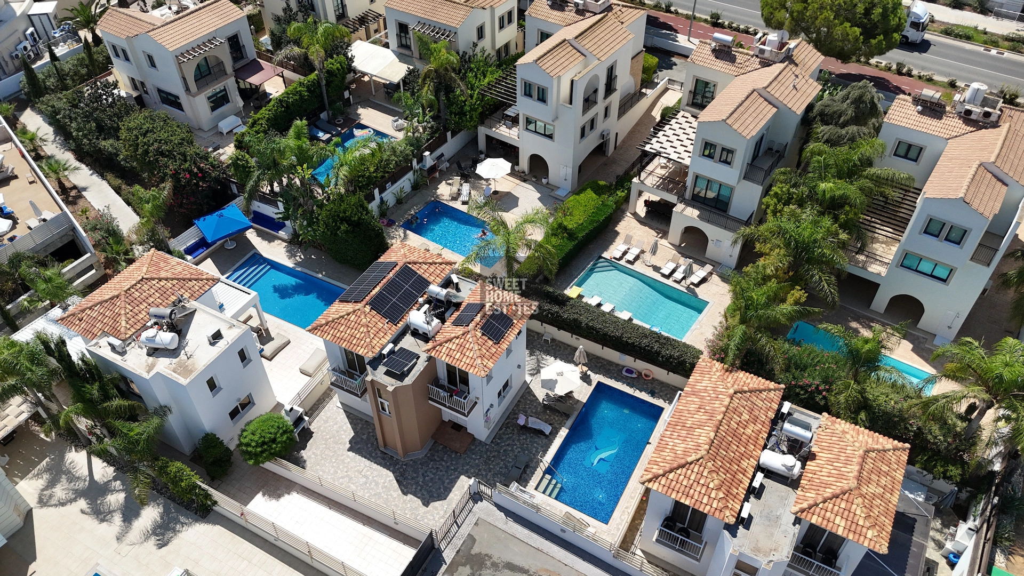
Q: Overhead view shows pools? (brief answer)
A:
Yes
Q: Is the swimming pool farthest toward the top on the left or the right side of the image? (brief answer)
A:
left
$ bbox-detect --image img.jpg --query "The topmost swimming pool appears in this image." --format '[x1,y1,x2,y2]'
[305,119,398,190]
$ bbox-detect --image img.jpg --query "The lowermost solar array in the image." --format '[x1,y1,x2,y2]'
[381,347,419,379]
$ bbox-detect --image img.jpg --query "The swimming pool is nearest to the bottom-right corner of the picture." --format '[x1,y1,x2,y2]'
[773,314,946,407]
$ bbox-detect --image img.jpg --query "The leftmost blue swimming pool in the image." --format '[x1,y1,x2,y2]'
[220,245,349,334]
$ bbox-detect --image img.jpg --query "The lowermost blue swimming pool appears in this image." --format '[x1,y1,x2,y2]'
[520,372,675,537]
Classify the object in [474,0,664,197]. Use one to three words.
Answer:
house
